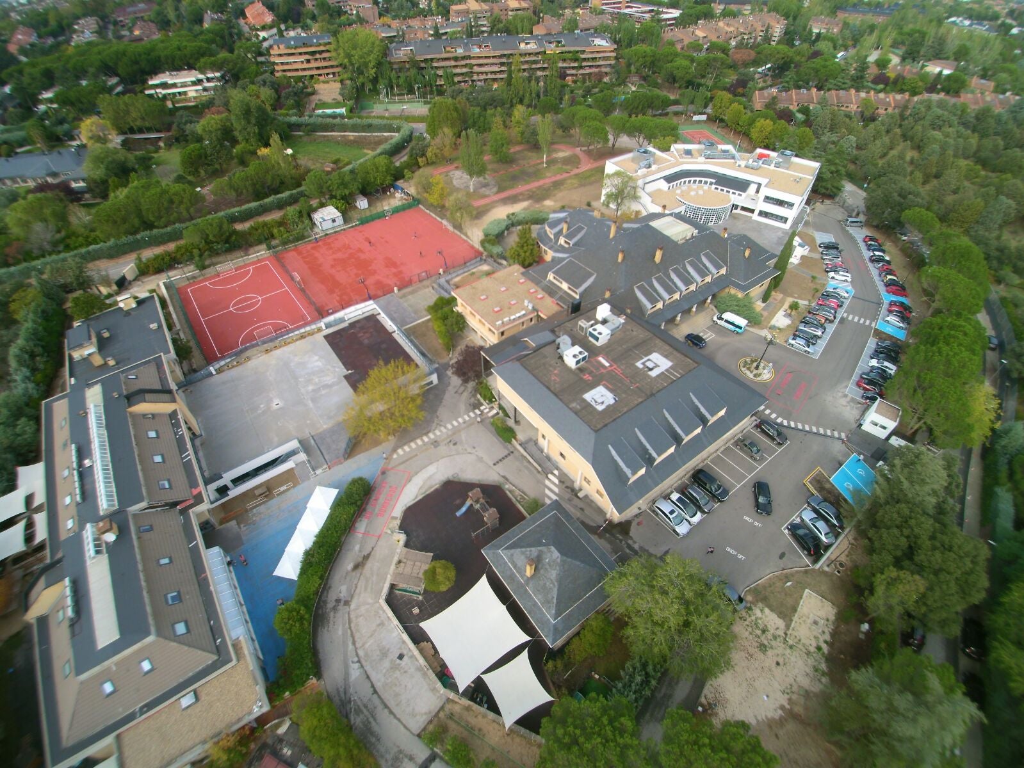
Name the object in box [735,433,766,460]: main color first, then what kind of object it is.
gray car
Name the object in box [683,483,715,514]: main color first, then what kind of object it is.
gray car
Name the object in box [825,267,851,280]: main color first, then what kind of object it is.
white vehicle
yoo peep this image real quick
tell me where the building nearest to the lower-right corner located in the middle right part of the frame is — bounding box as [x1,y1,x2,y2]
[861,398,898,435]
